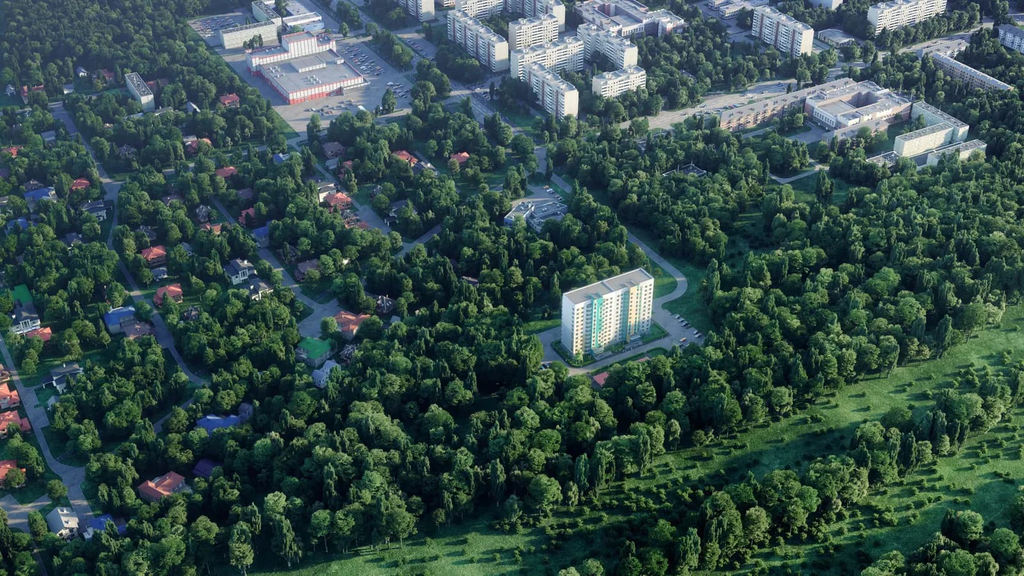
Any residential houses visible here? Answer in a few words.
Yes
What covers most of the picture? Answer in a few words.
trees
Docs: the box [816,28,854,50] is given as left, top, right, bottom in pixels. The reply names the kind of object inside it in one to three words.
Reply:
building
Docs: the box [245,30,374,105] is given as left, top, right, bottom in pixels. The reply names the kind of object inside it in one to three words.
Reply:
building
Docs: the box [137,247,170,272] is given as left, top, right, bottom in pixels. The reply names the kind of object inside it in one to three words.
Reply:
house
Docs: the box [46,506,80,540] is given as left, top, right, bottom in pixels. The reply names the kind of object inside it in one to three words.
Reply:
house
